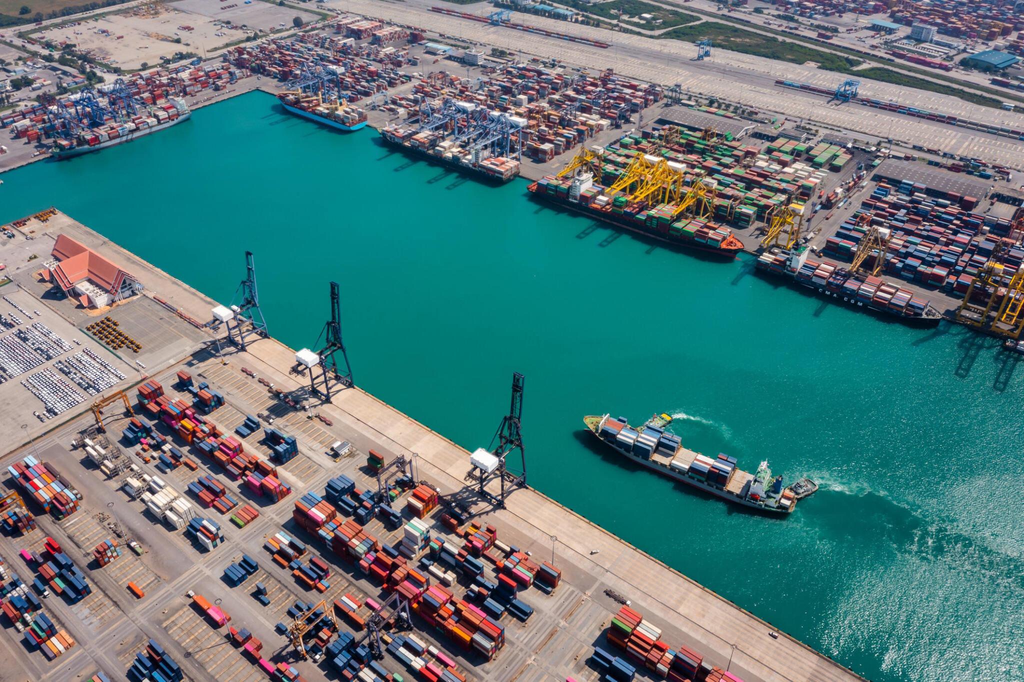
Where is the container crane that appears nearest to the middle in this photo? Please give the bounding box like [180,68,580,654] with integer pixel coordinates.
[463,371,527,506]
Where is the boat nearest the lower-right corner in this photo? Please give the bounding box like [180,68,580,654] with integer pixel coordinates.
[790,477,825,499]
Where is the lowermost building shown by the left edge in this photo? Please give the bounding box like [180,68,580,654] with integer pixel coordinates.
[31,233,139,308]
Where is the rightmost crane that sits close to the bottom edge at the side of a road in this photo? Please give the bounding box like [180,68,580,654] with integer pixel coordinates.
[368,595,417,656]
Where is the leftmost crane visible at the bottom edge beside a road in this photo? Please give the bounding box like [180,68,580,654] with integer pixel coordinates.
[290,597,342,658]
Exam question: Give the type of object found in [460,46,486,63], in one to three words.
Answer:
building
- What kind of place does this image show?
port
